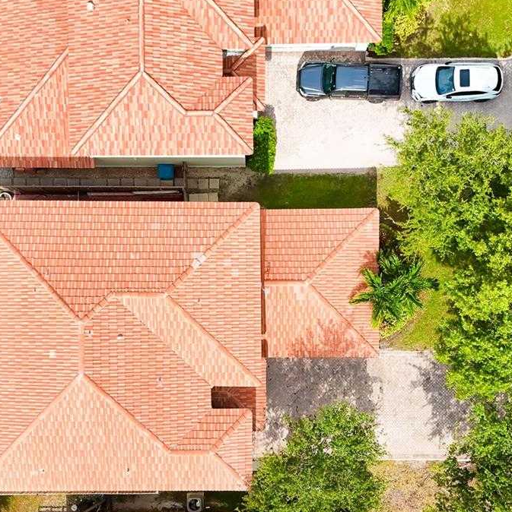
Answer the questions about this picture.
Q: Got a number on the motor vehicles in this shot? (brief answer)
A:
2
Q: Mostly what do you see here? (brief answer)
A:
buildings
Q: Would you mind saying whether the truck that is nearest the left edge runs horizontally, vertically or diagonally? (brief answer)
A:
horizontally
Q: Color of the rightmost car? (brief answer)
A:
white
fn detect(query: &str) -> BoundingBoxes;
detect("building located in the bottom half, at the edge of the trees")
[0,198,381,494]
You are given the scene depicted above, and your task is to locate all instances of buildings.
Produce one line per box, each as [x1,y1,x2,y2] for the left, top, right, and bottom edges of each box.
[0,198,381,494]
[0,0,384,169]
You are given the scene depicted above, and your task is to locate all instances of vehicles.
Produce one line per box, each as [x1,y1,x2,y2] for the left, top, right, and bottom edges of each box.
[297,57,404,105]
[410,57,504,105]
